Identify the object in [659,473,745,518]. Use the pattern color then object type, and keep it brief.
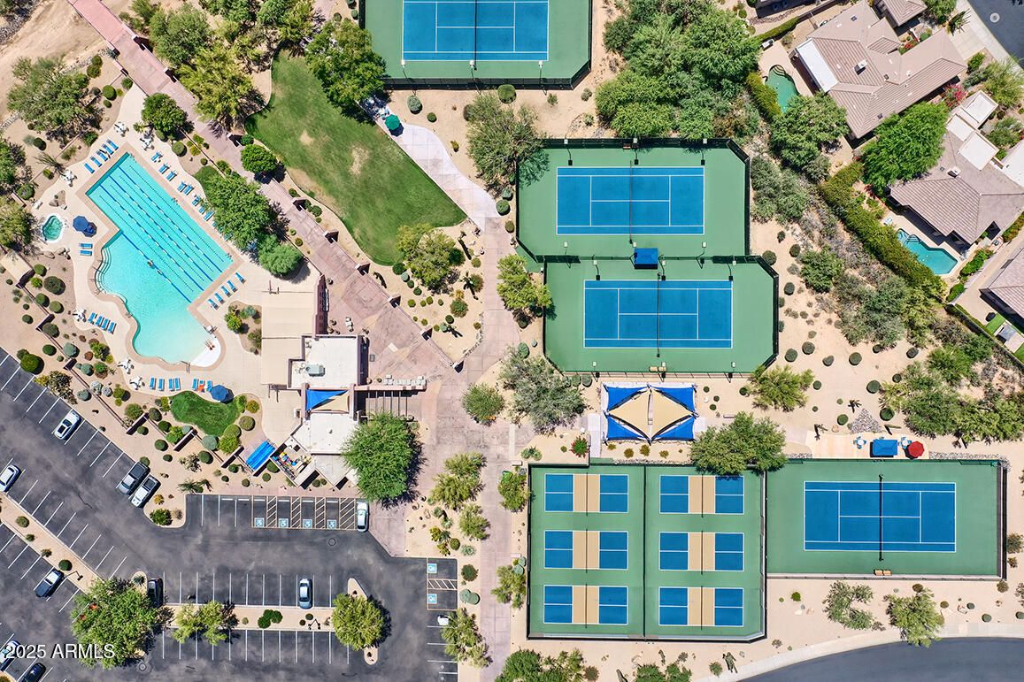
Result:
blue sports court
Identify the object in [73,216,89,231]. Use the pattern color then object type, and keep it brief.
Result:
blue umbrella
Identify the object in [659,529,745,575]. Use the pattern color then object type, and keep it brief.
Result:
blue sports court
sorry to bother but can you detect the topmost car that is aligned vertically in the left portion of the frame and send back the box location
[355,500,369,532]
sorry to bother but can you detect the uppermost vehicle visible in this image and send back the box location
[53,411,81,440]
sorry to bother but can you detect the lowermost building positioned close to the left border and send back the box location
[0,251,38,286]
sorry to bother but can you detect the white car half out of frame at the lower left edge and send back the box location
[0,639,20,669]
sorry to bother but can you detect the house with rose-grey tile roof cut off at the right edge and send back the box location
[981,250,1024,329]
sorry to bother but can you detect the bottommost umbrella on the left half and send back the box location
[211,384,228,401]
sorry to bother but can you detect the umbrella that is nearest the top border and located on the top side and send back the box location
[385,116,400,130]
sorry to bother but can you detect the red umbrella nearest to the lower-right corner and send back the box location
[906,441,923,457]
